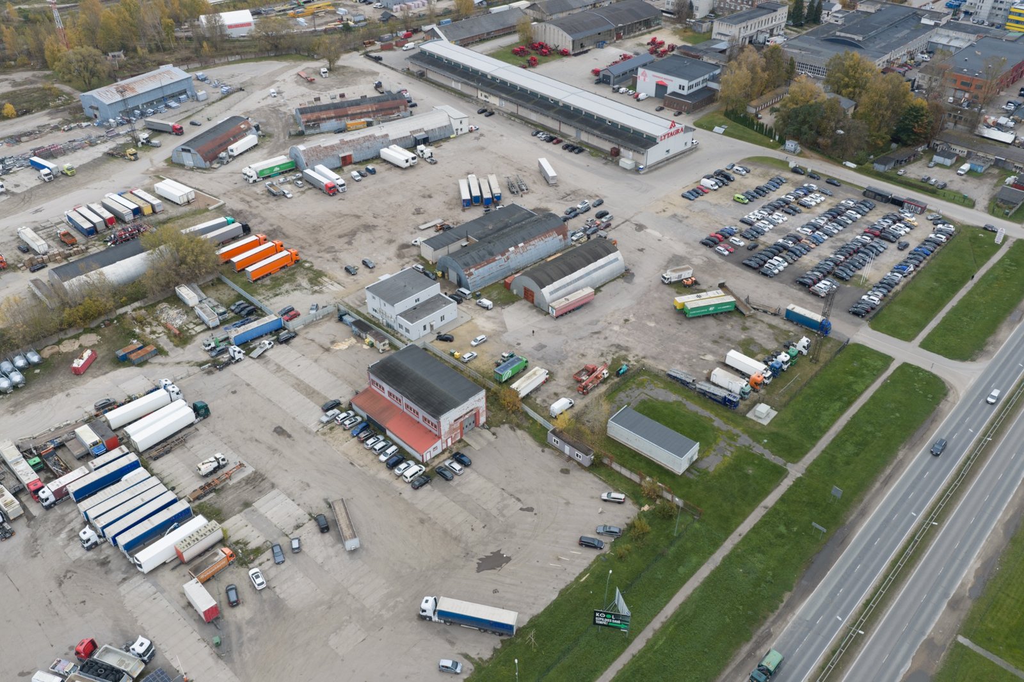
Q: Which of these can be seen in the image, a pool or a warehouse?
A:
warehouse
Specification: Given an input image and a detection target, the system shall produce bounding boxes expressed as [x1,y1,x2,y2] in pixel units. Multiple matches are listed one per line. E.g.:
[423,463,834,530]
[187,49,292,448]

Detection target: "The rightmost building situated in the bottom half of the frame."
[747,406,779,430]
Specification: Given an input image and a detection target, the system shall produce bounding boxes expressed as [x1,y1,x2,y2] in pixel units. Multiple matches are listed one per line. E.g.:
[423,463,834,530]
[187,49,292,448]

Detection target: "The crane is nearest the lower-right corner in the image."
[579,360,614,393]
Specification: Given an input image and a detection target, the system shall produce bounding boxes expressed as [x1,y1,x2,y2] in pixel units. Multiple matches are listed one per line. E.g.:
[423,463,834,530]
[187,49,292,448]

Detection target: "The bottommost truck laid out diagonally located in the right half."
[748,648,784,682]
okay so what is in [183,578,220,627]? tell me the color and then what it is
white trailer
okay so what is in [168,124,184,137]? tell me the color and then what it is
red vehicle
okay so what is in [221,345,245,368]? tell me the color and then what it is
white truck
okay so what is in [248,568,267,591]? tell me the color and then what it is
white car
